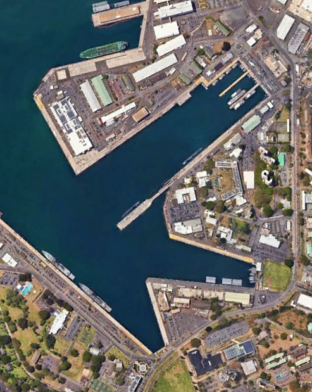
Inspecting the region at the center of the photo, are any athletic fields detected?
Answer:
No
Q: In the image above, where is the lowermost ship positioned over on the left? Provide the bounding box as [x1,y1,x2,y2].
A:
[78,282,111,311]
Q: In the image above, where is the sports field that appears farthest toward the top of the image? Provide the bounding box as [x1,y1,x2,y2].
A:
[262,262,292,292]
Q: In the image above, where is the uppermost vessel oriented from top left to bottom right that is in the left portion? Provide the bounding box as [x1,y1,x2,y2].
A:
[43,251,74,280]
